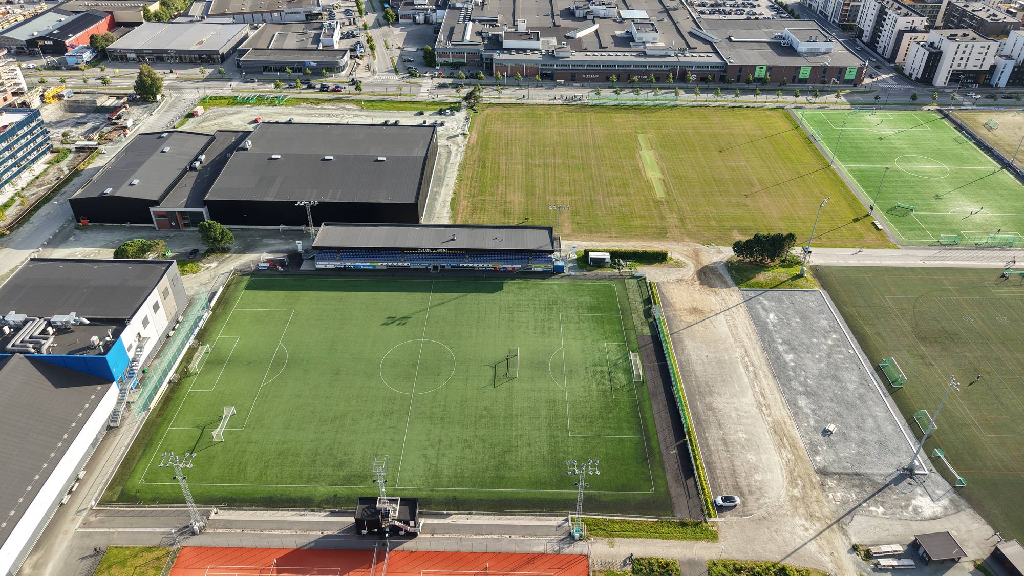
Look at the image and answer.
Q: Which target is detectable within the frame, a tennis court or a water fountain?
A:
tennis court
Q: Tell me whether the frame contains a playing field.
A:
Yes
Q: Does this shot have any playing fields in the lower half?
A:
Yes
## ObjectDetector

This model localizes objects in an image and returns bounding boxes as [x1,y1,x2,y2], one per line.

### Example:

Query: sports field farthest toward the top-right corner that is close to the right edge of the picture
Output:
[793,110,1024,248]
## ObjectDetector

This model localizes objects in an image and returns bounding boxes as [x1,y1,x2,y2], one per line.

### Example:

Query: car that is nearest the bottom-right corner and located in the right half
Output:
[717,498,743,510]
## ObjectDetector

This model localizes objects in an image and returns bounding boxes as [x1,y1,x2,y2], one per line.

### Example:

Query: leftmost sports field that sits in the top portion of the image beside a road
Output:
[451,105,895,247]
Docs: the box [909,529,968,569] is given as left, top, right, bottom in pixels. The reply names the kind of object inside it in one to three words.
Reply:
building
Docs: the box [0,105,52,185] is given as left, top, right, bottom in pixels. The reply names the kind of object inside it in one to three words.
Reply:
house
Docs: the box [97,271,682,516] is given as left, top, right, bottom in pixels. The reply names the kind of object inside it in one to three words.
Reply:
sports field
